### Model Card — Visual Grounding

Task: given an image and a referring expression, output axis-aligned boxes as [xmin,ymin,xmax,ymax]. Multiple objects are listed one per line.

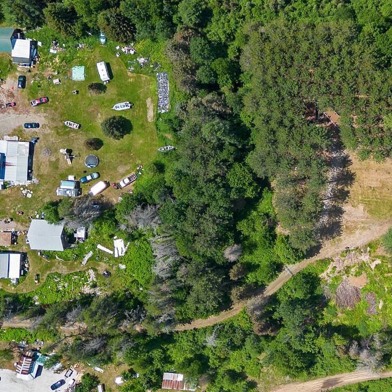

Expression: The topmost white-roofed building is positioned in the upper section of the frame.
[11,39,39,68]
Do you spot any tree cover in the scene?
Yes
